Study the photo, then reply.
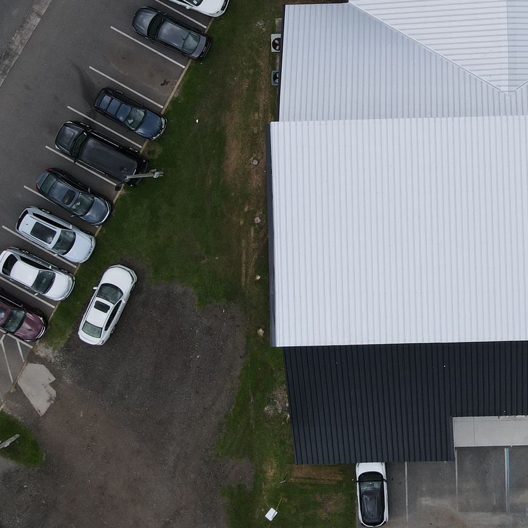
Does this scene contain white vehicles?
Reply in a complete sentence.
Yes, a white vehicle appears in the view.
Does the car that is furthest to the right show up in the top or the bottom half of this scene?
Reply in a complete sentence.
The bottom half of the photo is where the car that is furthest to the right is.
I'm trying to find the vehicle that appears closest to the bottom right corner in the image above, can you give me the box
[352,463,388,528]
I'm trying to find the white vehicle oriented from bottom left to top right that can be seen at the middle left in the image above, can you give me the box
[73,268,134,348]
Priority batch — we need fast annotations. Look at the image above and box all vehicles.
[0,295,42,342]
[26,169,109,226]
[0,246,69,304]
[73,268,134,348]
[82,85,164,141]
[172,0,226,18]
[129,3,208,61]
[46,121,144,188]
[6,207,90,265]
[352,463,388,528]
